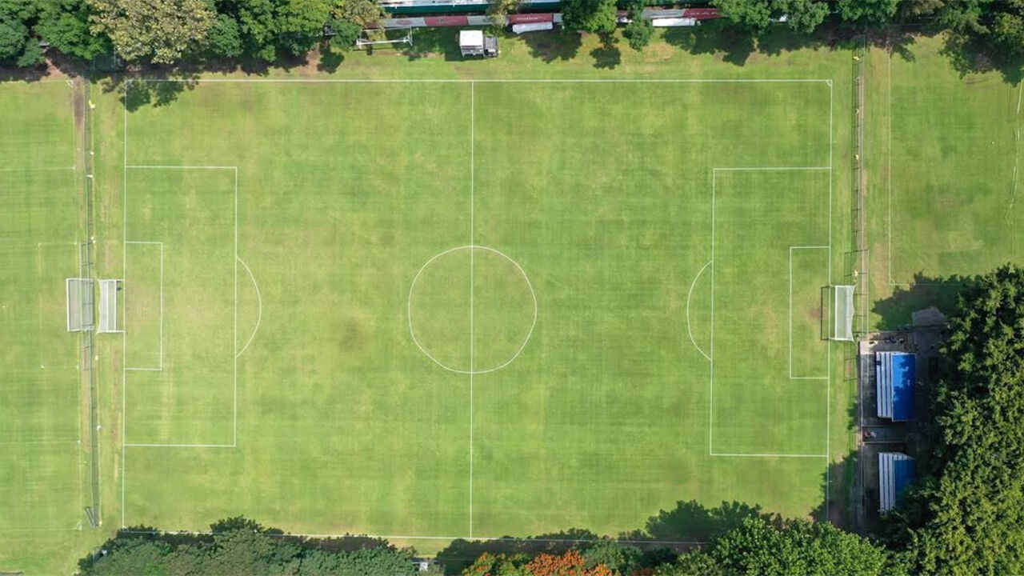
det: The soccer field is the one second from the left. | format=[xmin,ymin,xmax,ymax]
[110,68,846,561]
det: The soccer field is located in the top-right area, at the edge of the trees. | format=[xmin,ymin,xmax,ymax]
[889,25,1024,285]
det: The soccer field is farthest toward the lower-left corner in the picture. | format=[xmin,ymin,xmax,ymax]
[0,80,103,539]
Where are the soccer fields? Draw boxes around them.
[889,25,1024,285]
[110,68,846,561]
[0,80,103,539]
